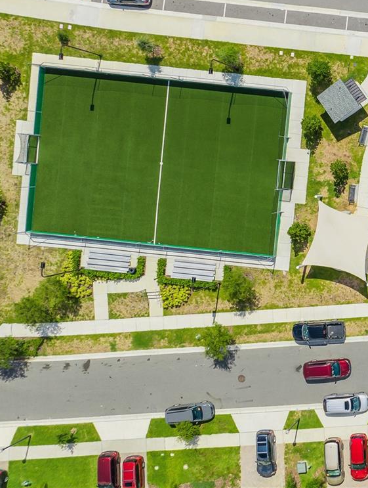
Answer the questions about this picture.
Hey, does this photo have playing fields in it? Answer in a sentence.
Yes, the image includes a playing field.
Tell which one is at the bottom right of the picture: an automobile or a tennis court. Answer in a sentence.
The one visible at the bottom right of the picture is an automobile.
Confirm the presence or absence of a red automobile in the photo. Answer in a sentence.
Yes, the picture does show a red automobile.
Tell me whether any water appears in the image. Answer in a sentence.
No, water can't be seen anywhere here.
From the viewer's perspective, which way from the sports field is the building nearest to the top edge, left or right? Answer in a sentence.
Relative to the sports field, the building nearest to the top edge lies to the right.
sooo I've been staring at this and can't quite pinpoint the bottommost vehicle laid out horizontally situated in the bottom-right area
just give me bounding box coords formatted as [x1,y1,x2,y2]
[324,392,368,414]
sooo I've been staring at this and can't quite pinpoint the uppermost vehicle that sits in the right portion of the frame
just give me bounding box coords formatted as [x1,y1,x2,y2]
[293,323,349,345]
